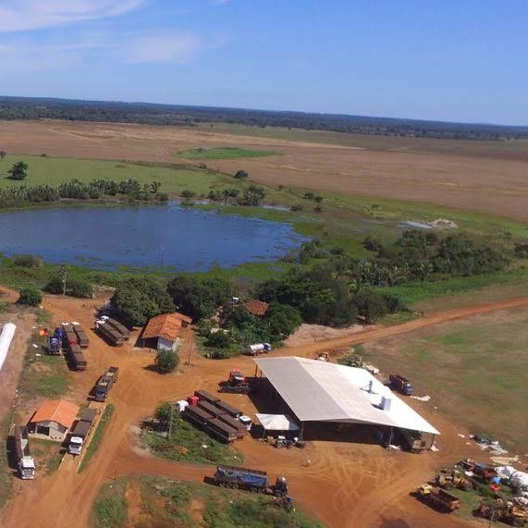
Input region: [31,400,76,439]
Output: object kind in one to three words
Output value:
house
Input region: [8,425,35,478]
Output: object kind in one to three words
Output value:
truck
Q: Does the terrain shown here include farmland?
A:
Yes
